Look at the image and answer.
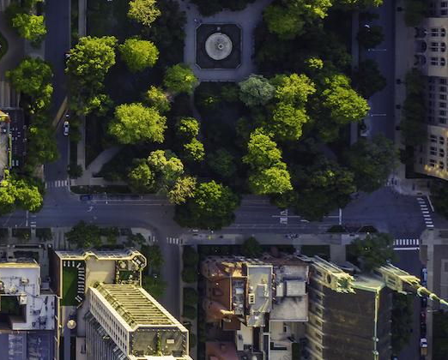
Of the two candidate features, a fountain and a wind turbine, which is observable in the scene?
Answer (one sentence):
Of the two, only a fountain appears.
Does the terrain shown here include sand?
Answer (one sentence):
No, sand can't be seen anywhere here.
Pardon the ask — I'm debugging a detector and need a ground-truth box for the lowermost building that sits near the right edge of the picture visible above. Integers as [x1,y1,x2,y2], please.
[273,242,448,360]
